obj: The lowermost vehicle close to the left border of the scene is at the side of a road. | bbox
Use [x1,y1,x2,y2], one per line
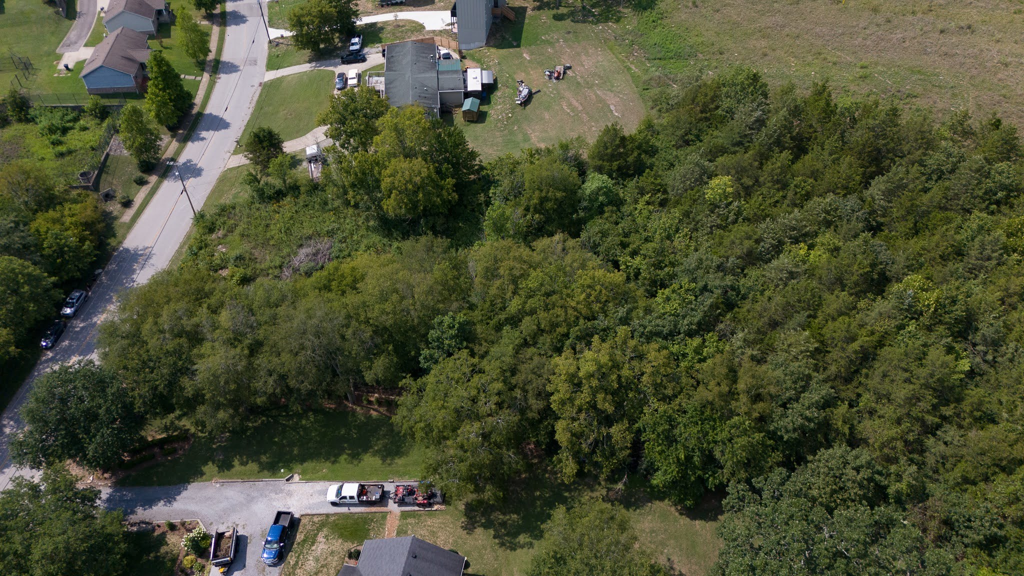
[33,318,69,351]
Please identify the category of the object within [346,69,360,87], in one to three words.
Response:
car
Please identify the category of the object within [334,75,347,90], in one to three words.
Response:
vehicle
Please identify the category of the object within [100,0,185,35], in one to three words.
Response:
building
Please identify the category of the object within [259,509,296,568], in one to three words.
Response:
truck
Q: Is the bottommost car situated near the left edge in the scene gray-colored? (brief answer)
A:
No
